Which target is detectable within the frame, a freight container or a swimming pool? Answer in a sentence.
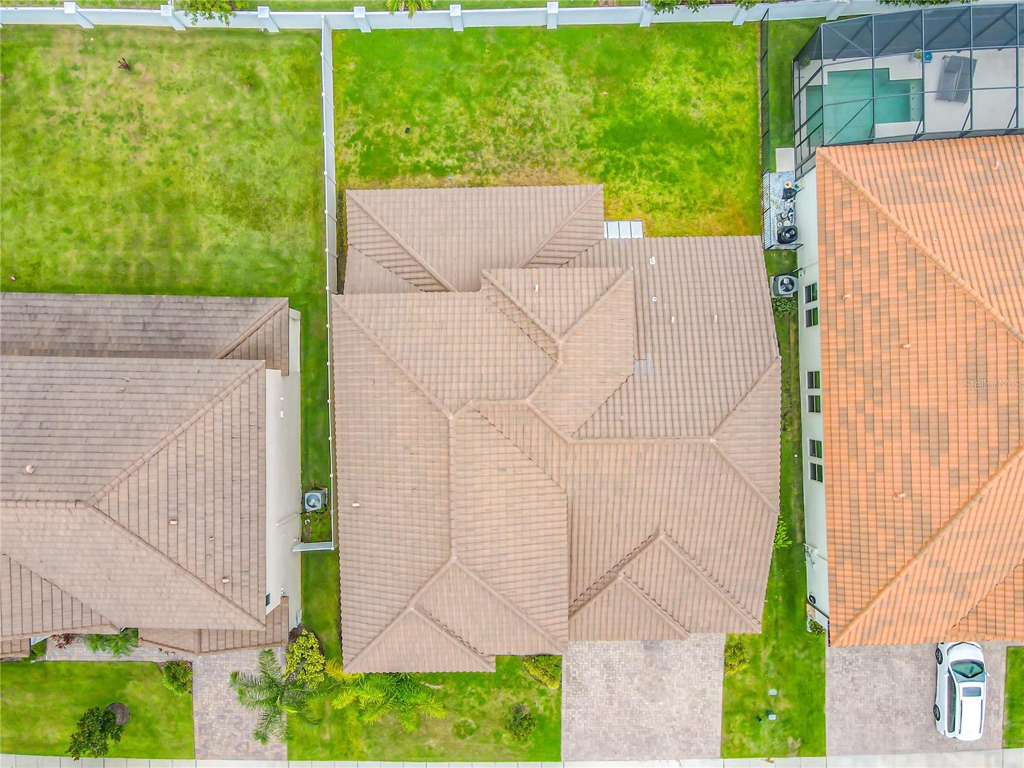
The image shows a swimming pool.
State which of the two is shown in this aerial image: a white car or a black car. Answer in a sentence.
This aerial view contains a white car.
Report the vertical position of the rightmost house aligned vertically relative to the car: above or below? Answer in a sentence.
Relative to the car, the rightmost house aligned vertically lies above it.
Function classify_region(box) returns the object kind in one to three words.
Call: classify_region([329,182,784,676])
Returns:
house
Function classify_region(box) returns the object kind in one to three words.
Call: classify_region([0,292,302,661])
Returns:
house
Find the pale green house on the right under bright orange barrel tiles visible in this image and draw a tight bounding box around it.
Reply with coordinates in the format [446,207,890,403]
[796,133,1024,649]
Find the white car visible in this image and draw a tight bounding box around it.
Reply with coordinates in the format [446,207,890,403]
[932,640,988,740]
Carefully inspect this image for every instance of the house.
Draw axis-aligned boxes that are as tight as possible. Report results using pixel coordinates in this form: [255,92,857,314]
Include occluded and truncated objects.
[0,292,302,661]
[329,182,784,676]
[796,133,1024,649]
